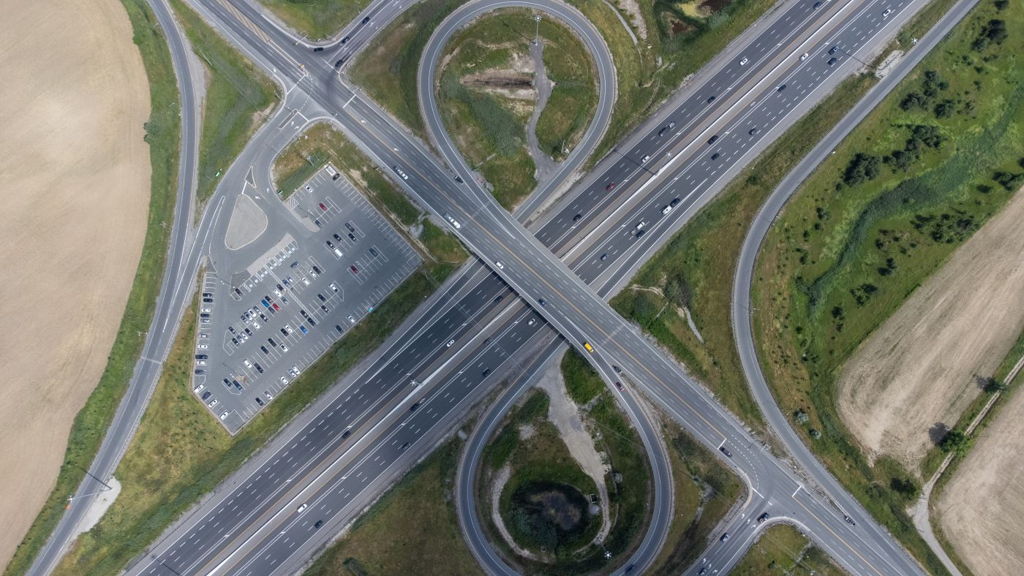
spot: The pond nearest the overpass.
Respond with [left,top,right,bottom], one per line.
[519,483,585,534]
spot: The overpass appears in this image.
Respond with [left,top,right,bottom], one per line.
[452,204,627,357]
